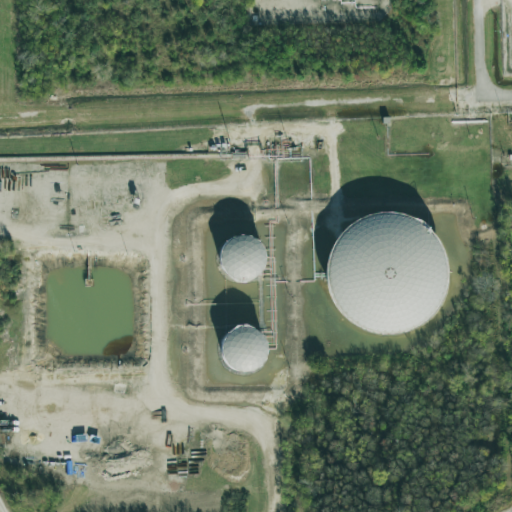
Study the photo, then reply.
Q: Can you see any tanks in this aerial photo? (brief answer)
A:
Yes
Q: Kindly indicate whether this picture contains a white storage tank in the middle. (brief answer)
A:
Yes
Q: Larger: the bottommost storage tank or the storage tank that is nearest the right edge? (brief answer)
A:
the storage tank that is nearest the right edge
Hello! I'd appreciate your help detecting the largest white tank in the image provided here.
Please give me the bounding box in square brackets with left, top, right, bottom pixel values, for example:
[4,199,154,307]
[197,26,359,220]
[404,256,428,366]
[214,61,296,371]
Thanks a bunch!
[326,214,452,335]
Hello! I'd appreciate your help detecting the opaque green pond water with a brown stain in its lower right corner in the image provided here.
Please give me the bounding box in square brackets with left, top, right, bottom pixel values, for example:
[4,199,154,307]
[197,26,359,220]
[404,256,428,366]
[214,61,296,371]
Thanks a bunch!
[45,264,135,357]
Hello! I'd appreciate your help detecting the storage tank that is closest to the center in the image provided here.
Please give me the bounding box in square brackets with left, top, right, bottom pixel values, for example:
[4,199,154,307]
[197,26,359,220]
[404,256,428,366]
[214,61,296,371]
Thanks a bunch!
[218,236,268,284]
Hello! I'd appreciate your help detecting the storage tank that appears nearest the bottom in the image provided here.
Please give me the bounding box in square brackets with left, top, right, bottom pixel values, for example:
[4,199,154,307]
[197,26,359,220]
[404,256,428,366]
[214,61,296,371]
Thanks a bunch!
[220,326,270,374]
